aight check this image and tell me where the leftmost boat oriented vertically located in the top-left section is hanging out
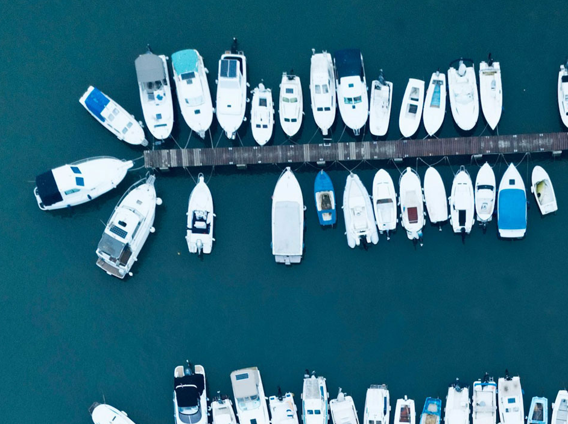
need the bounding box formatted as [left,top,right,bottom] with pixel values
[136,44,173,151]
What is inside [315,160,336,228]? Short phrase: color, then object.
blue boat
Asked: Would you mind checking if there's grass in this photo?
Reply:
No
